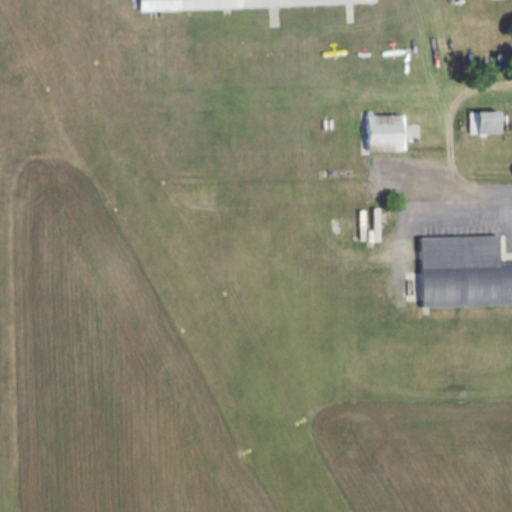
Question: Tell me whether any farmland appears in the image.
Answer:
Yes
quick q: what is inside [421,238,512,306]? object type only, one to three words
hangar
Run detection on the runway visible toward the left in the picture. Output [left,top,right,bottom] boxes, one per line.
[47,64,300,454]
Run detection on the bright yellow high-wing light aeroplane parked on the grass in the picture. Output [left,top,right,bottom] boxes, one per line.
[324,44,347,60]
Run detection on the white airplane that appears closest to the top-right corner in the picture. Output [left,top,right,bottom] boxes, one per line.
[384,44,406,60]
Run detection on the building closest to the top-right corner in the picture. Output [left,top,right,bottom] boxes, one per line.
[469,112,504,138]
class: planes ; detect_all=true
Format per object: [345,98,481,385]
[384,44,406,60]
[358,48,371,58]
[324,44,347,60]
